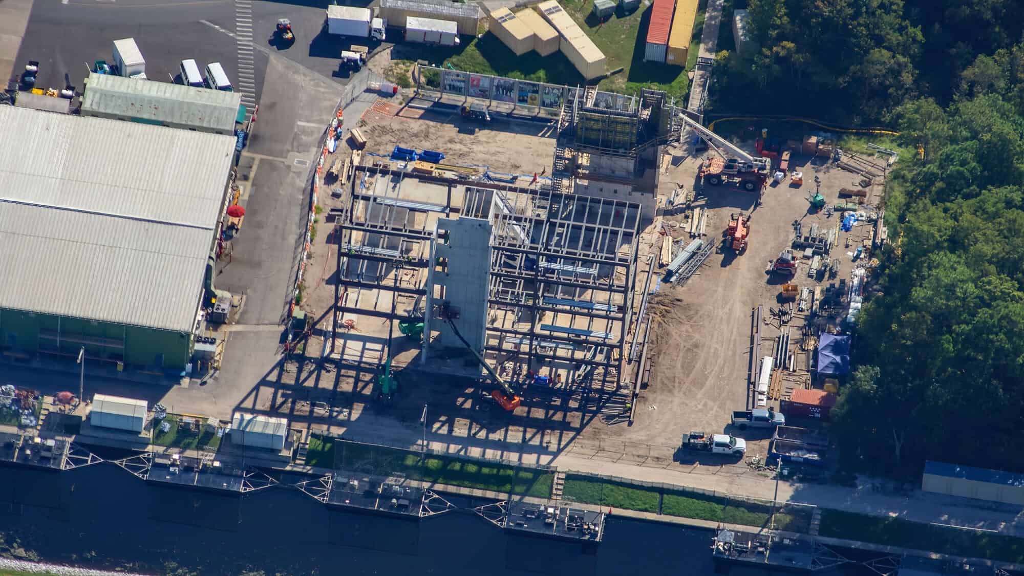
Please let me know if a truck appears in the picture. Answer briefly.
Yes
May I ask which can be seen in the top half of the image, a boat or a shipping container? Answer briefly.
shipping container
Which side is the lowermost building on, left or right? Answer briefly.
right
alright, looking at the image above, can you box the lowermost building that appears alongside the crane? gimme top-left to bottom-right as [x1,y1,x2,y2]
[330,165,647,393]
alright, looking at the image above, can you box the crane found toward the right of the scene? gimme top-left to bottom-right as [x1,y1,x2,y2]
[671,109,777,204]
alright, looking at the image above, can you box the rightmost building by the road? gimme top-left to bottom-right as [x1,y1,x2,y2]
[919,456,1024,508]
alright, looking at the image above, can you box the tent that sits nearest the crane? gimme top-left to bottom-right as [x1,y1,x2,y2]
[815,334,851,392]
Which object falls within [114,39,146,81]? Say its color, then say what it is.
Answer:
white truck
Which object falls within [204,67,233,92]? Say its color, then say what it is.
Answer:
white vehicle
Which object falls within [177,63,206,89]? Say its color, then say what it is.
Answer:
white vehicle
